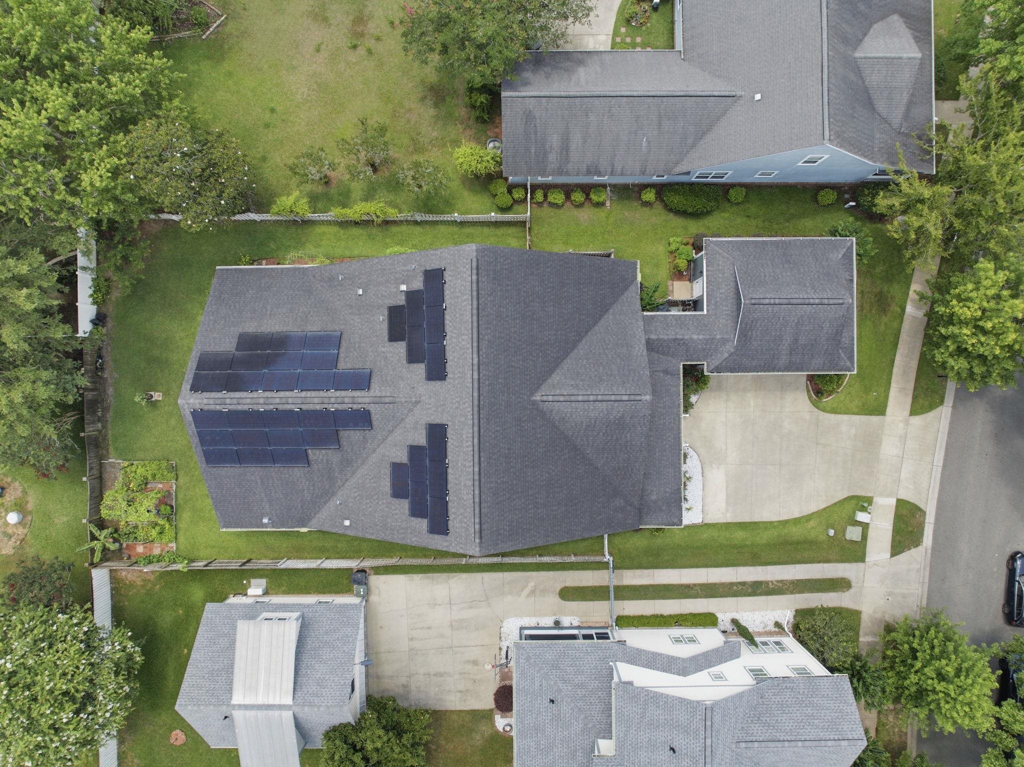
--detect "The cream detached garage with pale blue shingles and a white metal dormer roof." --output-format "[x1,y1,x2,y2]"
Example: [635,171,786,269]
[175,594,368,767]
